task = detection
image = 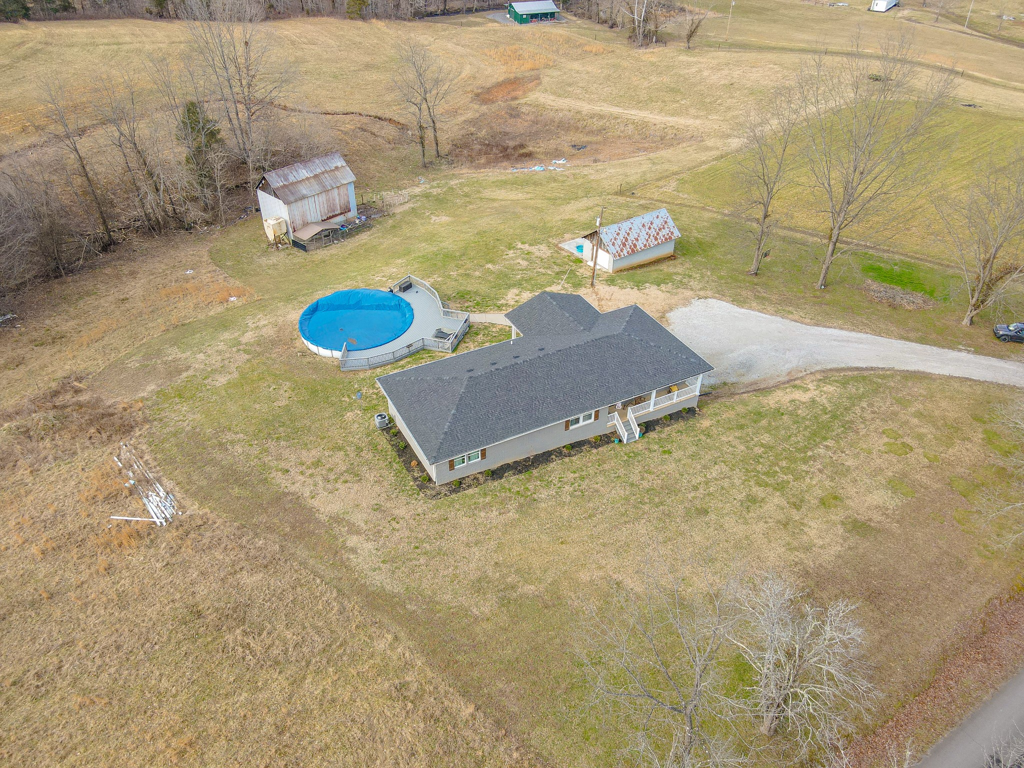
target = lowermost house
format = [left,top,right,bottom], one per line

[377,292,716,484]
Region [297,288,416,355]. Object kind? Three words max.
swimming pool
